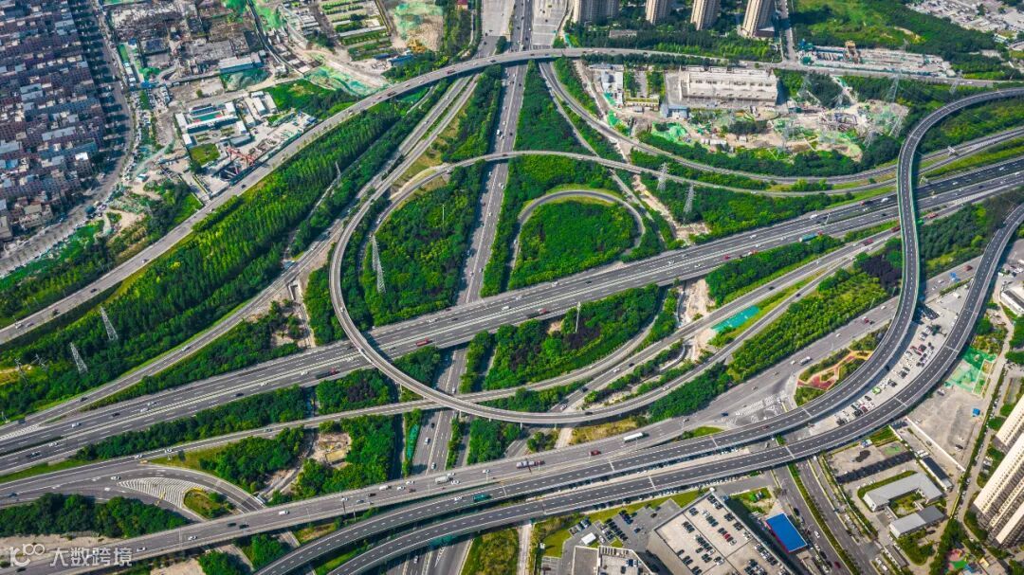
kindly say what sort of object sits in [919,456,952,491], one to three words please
shed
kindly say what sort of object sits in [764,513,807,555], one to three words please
building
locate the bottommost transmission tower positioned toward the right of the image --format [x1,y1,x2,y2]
[682,183,694,220]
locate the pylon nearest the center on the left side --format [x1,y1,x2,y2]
[370,235,389,294]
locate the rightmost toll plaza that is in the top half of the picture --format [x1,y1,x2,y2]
[532,0,563,49]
